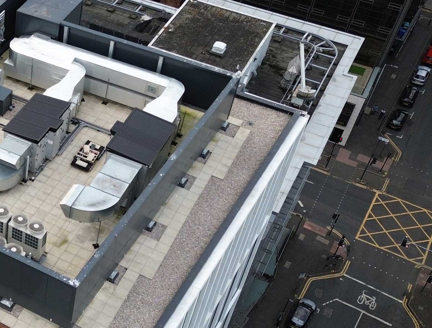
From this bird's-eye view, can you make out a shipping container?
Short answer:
No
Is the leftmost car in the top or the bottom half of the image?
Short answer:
bottom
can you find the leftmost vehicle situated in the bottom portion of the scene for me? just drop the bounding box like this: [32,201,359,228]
[288,296,316,328]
